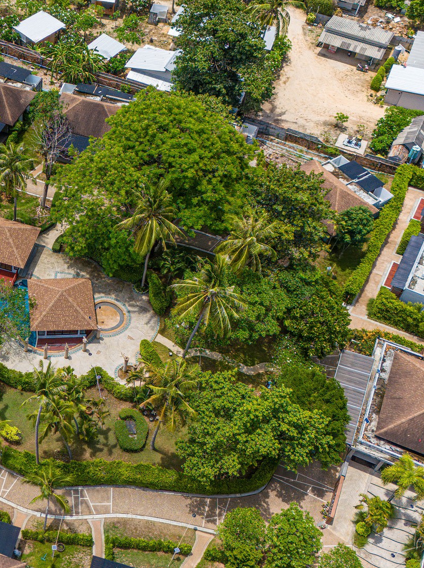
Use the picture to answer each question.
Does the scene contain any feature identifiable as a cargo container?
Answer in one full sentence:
No, there's no cargo container here.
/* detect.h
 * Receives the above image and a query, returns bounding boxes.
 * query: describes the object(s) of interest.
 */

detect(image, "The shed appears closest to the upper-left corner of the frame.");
[16,10,65,56]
